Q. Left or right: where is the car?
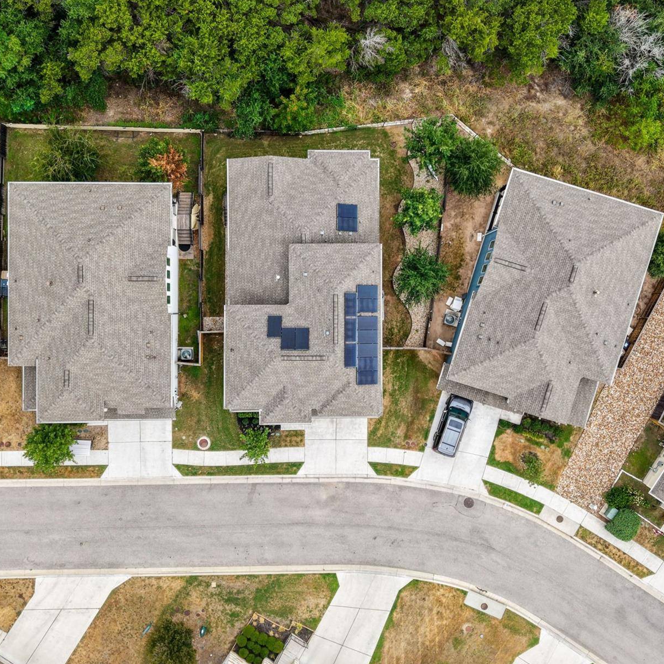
right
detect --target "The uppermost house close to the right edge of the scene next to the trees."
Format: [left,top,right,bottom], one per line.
[436,168,663,428]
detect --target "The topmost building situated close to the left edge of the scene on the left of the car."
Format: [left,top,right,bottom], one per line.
[7,176,182,425]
